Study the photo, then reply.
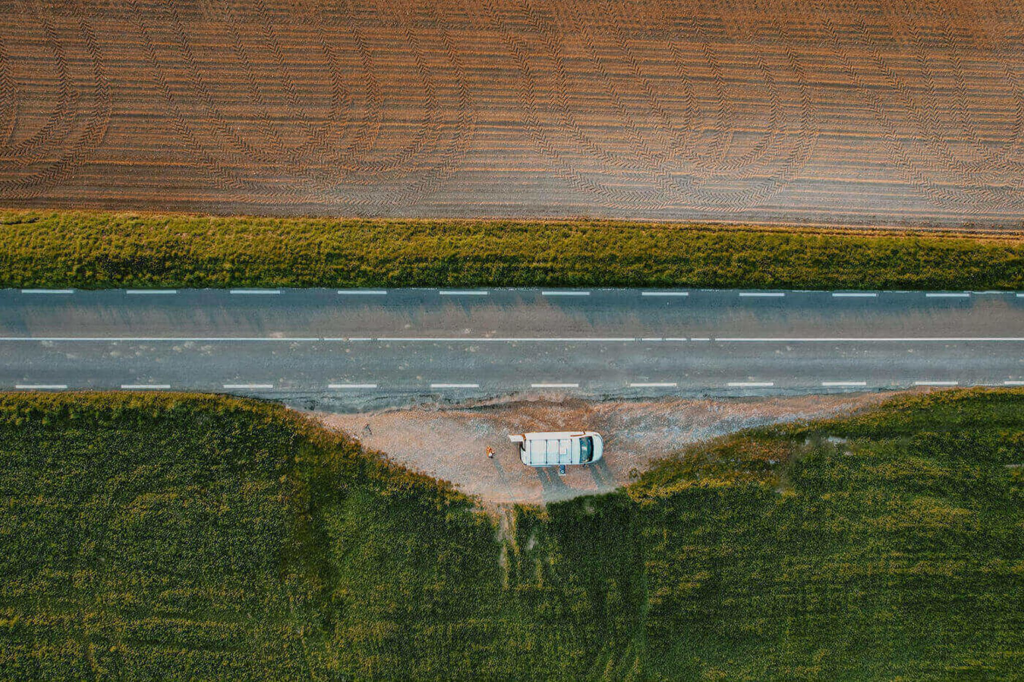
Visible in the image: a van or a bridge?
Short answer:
van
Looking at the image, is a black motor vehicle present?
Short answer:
No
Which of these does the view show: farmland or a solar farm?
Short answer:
farmland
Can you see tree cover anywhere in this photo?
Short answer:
No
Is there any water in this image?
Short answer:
No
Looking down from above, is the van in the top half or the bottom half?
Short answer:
bottom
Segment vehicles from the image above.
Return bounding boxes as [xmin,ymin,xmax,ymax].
[509,431,605,469]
